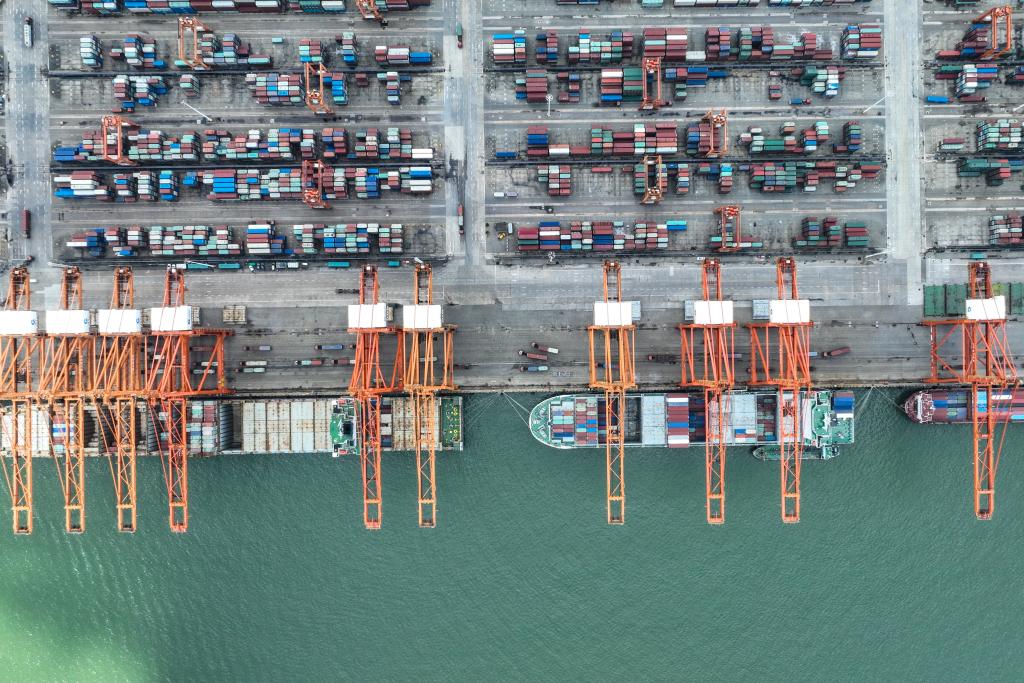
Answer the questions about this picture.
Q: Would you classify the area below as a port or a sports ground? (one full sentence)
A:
The area seen from above is a port.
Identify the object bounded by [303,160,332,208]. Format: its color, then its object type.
red container crane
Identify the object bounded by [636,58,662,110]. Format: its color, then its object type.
red container crane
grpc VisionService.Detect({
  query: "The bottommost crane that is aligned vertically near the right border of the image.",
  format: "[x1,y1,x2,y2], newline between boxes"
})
[916,260,1024,522]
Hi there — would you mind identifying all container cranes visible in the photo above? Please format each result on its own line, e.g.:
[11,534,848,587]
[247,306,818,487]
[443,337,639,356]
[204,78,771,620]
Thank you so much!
[0,269,85,535]
[304,62,334,114]
[303,160,332,208]
[671,258,736,524]
[178,17,214,70]
[102,116,140,165]
[348,262,407,530]
[580,259,637,525]
[916,260,1024,522]
[740,257,818,523]
[360,0,386,19]
[636,58,662,110]
[35,269,127,534]
[697,108,727,158]
[88,268,178,534]
[401,261,458,530]
[636,155,663,204]
[144,267,235,534]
